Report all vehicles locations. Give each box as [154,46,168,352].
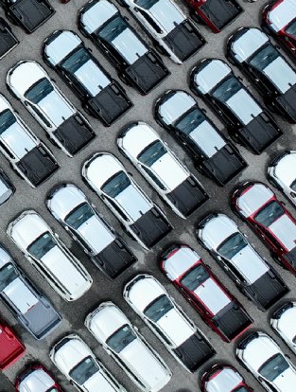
[254,154,296,221]
[81,153,176,257]
[116,121,214,222]
[201,363,254,392]
[235,331,296,392]
[256,0,296,69]
[258,304,296,369]
[78,0,173,99]
[195,212,294,313]
[47,183,142,284]
[4,59,99,162]
[159,243,255,346]
[226,26,296,128]
[231,180,296,280]
[52,336,126,392]
[9,212,95,305]
[154,89,252,190]
[0,0,58,38]
[0,314,28,373]
[43,28,137,131]
[0,93,64,192]
[182,0,246,37]
[86,304,174,392]
[123,271,220,374]
[0,247,64,344]
[190,58,287,160]
[16,368,65,392]
[118,0,210,68]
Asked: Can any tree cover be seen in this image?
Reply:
No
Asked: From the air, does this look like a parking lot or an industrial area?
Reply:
parking lot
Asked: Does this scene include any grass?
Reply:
No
